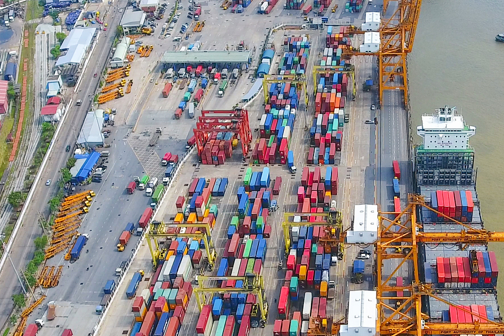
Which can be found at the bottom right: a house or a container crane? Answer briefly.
container crane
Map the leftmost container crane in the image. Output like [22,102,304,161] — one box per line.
[146,217,215,272]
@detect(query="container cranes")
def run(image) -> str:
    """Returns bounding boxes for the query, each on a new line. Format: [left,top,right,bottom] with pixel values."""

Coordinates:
[201,105,249,149]
[331,0,415,82]
[312,60,357,99]
[327,0,422,110]
[146,217,215,272]
[279,282,504,336]
[194,118,246,163]
[263,70,310,106]
[282,208,344,261]
[295,193,504,322]
[195,268,267,324]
